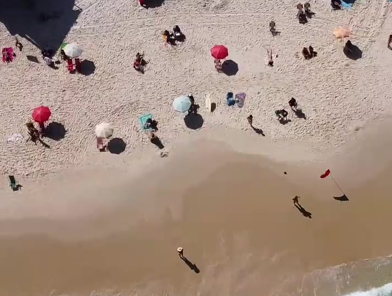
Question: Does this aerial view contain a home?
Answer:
No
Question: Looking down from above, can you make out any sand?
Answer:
Yes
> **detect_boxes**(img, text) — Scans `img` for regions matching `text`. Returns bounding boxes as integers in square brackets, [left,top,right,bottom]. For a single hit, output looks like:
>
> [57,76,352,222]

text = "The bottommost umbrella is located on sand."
[96,127,116,141]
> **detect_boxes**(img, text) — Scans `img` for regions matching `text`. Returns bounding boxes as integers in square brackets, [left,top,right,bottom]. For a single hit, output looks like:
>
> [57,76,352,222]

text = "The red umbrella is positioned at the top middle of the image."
[210,47,229,63]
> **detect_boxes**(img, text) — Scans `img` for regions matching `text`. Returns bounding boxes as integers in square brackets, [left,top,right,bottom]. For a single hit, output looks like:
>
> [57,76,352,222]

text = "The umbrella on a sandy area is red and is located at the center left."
[32,109,53,125]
